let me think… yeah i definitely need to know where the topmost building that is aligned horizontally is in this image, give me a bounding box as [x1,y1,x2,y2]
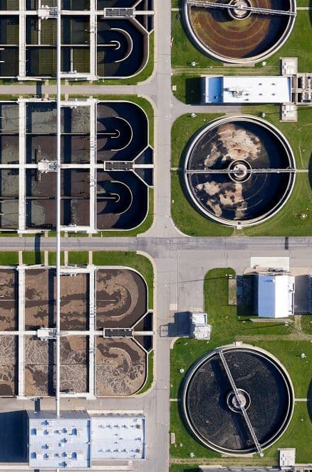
[201,75,292,105]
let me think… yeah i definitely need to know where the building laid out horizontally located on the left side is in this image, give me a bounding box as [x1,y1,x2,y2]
[25,409,146,468]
